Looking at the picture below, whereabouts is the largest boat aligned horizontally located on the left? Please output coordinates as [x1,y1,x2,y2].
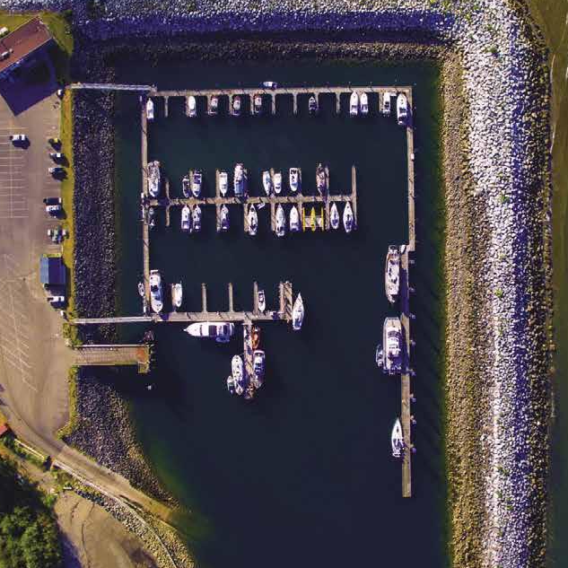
[185,321,237,338]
